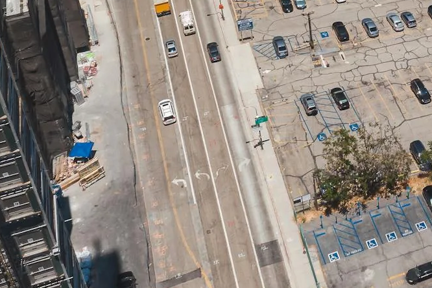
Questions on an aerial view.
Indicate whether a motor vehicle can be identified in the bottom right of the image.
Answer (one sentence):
Yes, you'll find a motor vehicle in the bottom right of the image.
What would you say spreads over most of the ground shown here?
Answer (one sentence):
The scene is dominated by paved ground.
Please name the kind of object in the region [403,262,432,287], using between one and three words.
car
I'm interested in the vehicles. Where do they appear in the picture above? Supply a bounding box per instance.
[271,36,289,60]
[179,5,196,37]
[330,86,350,113]
[359,17,380,40]
[420,183,432,215]
[277,0,295,14]
[384,12,405,35]
[154,0,171,20]
[409,83,432,109]
[331,20,350,44]
[299,90,320,119]
[206,40,223,65]
[293,0,308,11]
[408,140,432,171]
[425,4,432,19]
[399,10,418,31]
[164,38,180,62]
[403,262,432,287]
